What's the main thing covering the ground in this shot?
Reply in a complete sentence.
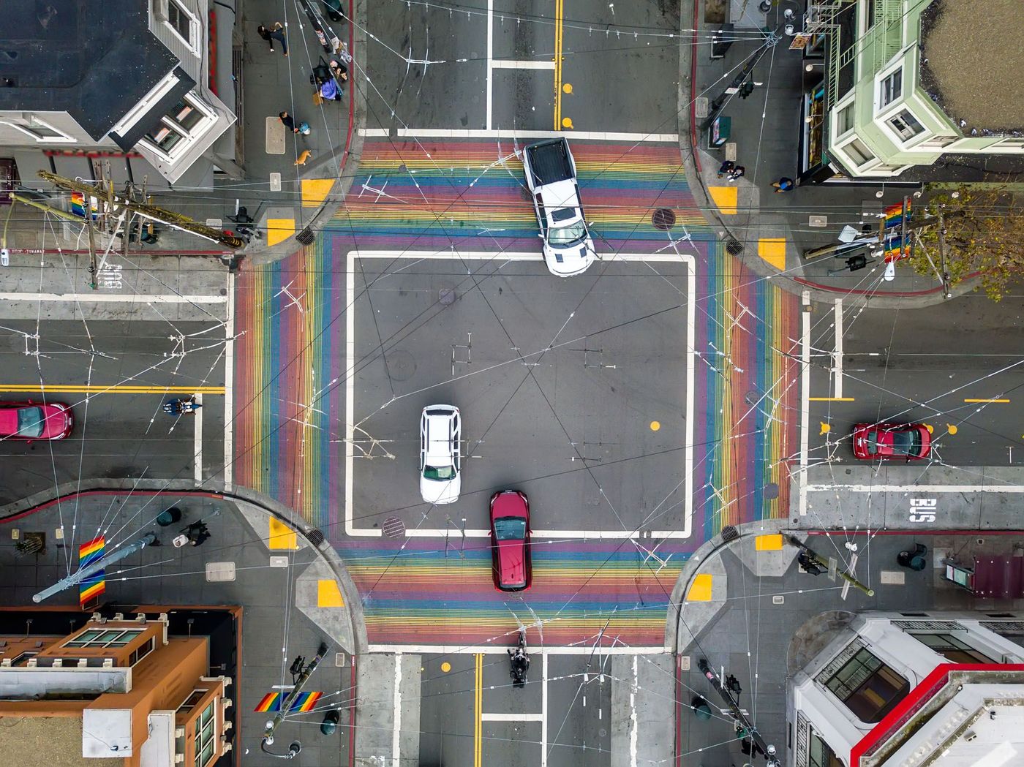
The scene is dominated by paved ground.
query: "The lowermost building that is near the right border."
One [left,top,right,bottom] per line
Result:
[783,606,1024,767]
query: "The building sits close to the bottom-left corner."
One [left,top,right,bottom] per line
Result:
[0,607,243,767]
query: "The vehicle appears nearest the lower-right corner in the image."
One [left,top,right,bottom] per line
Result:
[850,420,929,464]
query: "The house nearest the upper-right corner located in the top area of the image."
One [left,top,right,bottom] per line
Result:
[796,0,1024,191]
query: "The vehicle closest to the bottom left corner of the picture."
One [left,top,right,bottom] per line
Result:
[0,396,75,444]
